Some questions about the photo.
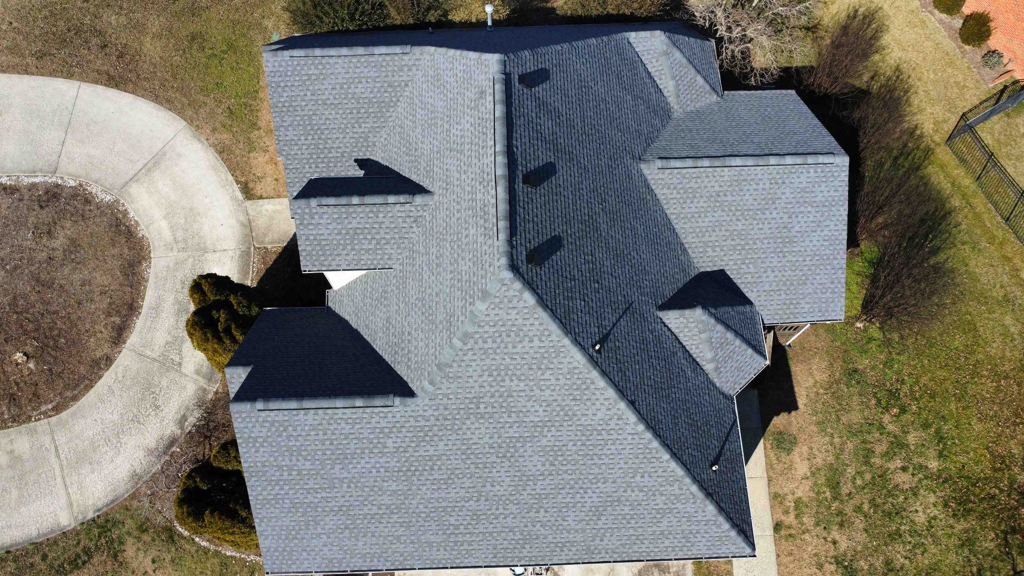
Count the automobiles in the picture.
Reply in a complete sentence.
The picture shows no automobiles.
